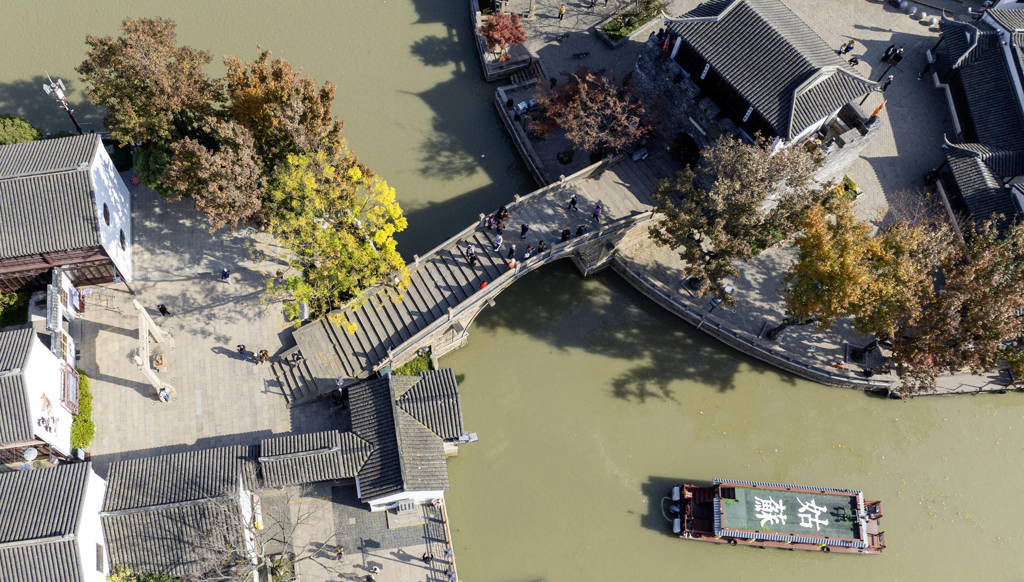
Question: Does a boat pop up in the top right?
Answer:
No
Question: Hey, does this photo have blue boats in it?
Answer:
No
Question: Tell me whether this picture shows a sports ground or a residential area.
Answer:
residential area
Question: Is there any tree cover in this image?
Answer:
Yes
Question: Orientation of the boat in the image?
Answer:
from side to side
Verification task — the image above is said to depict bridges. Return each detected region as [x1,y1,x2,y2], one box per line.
[265,154,682,416]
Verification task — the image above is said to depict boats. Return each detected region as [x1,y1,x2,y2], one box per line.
[658,475,885,563]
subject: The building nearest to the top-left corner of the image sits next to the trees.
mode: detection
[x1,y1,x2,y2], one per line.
[0,133,127,293]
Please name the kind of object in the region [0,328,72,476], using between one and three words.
house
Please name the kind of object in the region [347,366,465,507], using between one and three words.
building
